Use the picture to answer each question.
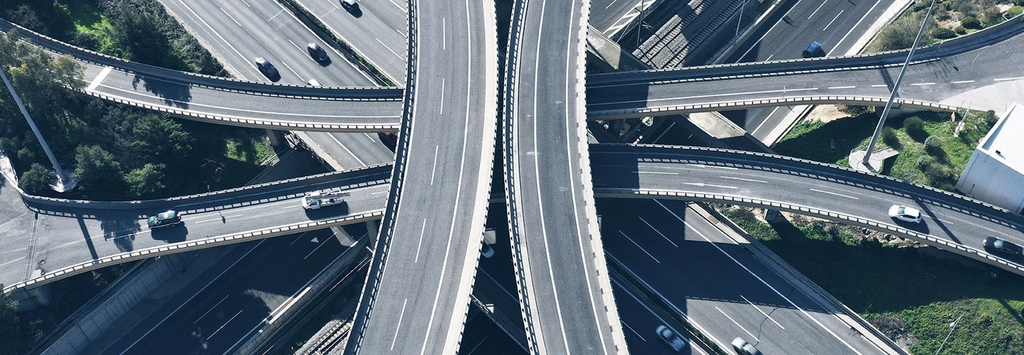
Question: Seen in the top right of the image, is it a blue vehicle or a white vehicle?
blue vehicle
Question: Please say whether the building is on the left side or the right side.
right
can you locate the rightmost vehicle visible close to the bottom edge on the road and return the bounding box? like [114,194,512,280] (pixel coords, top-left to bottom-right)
[727,332,764,355]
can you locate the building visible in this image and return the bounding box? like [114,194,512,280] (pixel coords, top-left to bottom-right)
[954,94,1024,218]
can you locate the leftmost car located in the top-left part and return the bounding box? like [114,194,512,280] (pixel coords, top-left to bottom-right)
[254,55,279,77]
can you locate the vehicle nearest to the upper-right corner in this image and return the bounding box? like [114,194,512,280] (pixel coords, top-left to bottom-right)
[801,39,822,58]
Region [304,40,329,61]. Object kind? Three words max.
car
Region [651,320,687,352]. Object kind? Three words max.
car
